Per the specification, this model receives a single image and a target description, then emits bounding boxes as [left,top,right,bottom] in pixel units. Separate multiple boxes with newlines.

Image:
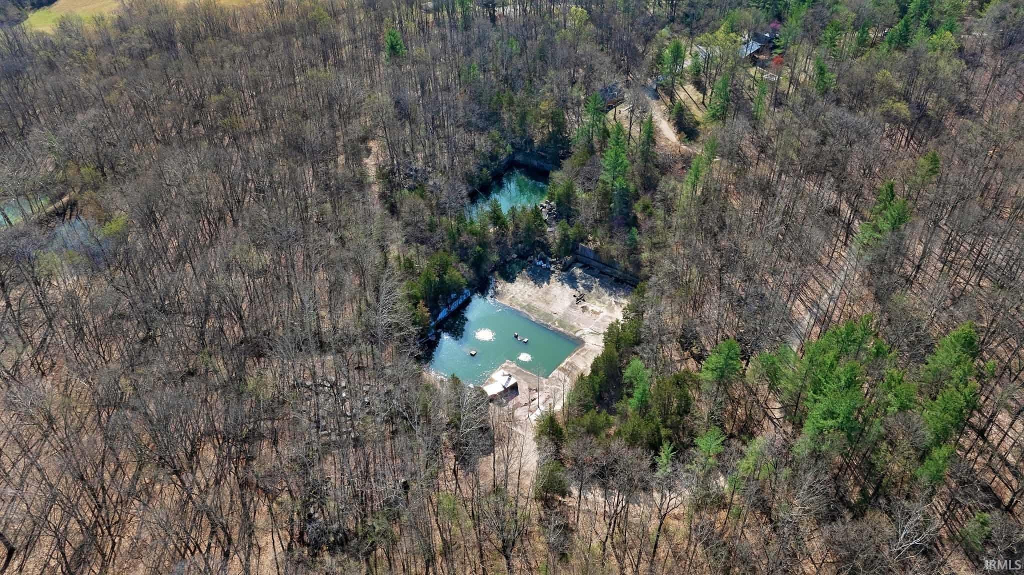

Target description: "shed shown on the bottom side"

[483,370,516,401]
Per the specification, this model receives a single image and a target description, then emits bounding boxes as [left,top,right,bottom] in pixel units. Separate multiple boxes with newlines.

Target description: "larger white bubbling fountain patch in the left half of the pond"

[467,325,502,345]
